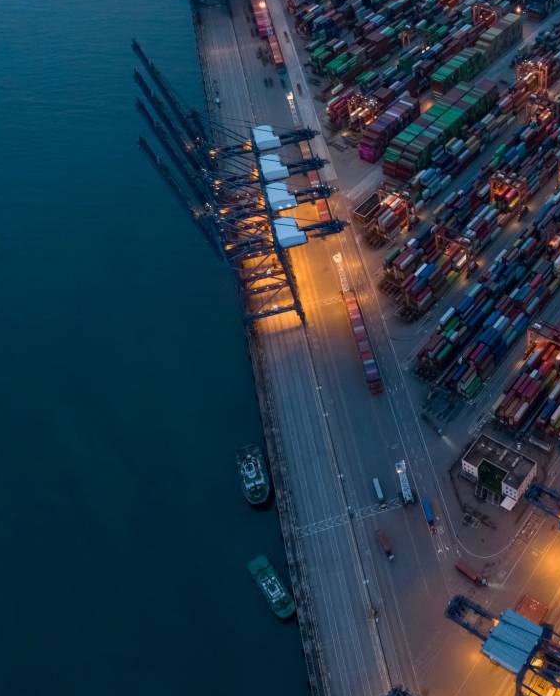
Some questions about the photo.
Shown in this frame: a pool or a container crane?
container crane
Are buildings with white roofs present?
No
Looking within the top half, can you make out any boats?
No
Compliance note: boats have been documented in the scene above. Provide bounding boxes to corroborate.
[235,441,267,504]
[244,551,293,618]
